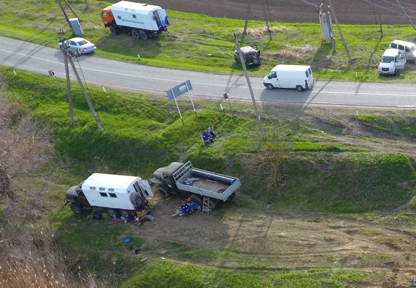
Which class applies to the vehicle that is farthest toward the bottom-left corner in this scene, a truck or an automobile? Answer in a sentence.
What you see as the vehicle that is farthest toward the bottom-left corner is a truck.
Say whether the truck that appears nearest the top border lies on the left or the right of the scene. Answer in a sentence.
It is on the left.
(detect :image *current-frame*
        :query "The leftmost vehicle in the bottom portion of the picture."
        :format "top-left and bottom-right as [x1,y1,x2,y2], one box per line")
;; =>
[63,170,154,219]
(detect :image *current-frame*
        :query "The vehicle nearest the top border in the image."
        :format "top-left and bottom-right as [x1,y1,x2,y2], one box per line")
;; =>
[92,1,171,41]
